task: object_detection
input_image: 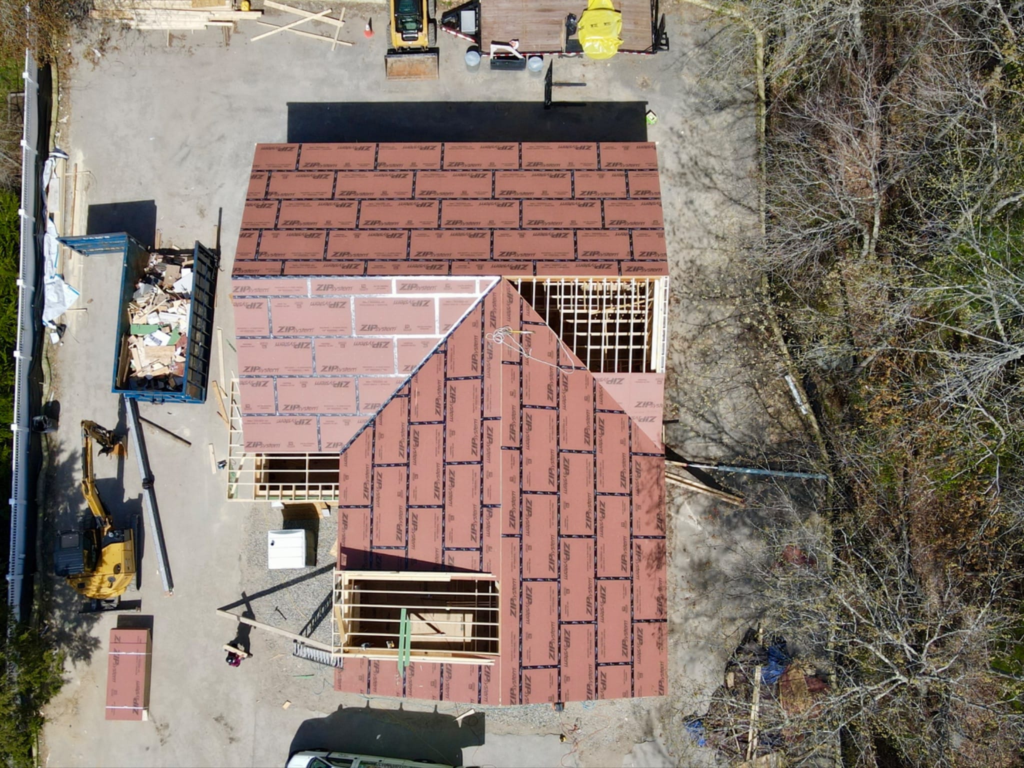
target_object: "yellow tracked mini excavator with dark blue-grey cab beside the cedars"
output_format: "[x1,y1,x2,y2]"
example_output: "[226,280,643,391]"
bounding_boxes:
[53,420,144,612]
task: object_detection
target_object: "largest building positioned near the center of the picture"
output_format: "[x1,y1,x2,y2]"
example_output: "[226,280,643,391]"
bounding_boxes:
[227,142,669,705]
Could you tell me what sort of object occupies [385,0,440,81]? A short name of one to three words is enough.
work vehicle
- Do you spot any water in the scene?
No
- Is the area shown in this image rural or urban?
urban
